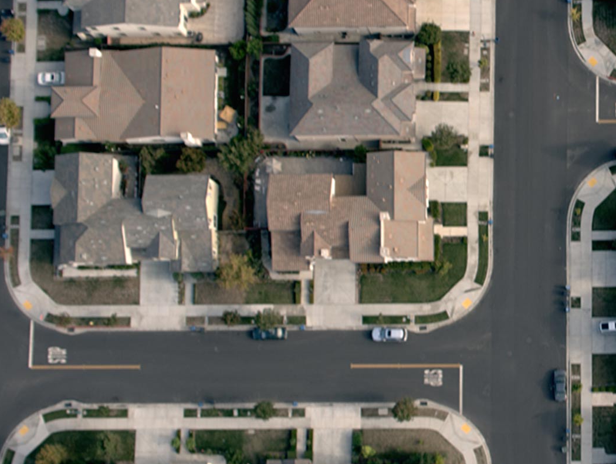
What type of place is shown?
residential area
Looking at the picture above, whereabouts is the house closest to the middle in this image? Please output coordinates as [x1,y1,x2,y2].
[265,150,437,274]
